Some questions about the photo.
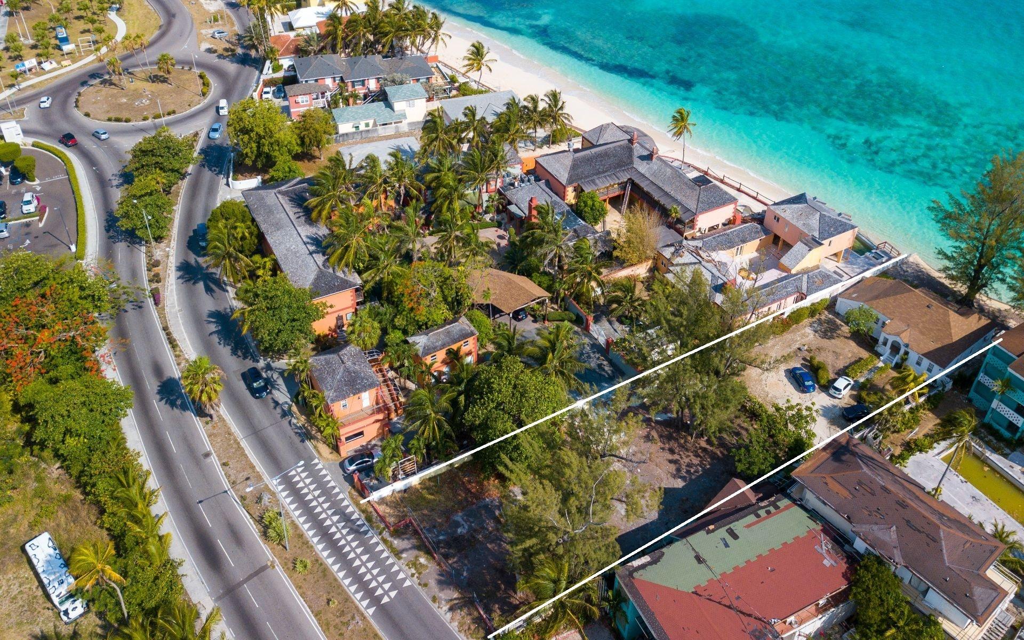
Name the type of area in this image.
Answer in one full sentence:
The area seen from above is a residential area.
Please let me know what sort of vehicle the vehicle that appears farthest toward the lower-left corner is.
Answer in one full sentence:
From above, the vehicle that appears farthest toward the lower-left corner can be identified as a bus.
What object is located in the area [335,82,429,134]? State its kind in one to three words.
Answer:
house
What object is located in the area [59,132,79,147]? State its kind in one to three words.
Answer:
car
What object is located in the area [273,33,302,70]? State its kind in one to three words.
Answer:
house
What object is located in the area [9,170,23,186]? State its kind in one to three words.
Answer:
car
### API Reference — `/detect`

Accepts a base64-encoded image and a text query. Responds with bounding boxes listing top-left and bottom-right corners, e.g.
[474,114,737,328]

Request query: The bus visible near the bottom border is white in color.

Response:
[23,530,90,632]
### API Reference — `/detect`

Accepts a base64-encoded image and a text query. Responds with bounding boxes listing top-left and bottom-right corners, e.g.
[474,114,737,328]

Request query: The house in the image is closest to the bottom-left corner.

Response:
[309,344,392,455]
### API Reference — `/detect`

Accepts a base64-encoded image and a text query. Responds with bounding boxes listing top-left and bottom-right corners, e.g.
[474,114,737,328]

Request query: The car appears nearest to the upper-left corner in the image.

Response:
[35,95,57,109]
